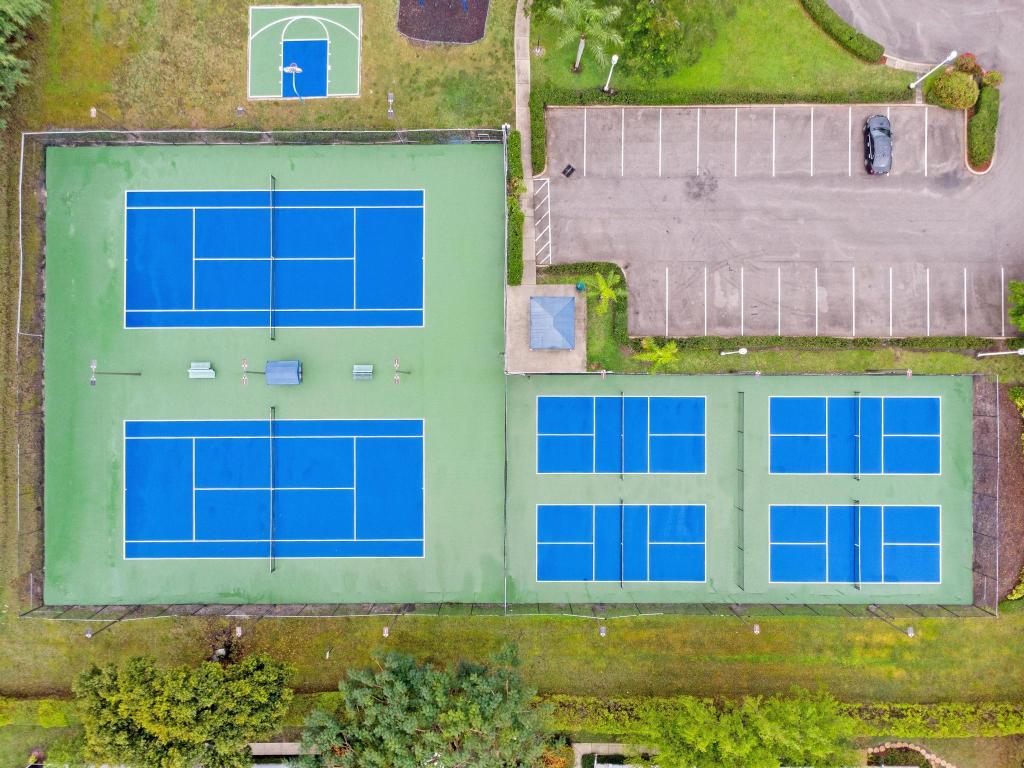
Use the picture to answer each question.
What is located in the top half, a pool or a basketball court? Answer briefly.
basketball court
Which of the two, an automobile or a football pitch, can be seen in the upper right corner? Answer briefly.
automobile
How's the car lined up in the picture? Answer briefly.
vertically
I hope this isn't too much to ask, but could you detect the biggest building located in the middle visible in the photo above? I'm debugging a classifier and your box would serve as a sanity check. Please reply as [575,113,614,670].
[529,297,575,350]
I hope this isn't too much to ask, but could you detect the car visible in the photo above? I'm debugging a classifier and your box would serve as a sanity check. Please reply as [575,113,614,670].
[861,114,894,177]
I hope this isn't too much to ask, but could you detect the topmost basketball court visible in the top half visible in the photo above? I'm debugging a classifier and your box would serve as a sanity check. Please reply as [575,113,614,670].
[248,4,362,100]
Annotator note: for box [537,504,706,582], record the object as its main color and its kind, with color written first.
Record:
blue sports court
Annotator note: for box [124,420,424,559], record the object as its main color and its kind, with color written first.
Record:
blue tennis court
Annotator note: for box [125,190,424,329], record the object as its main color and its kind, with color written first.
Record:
blue tennis court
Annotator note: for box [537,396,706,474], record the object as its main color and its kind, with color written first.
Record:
blue sports court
